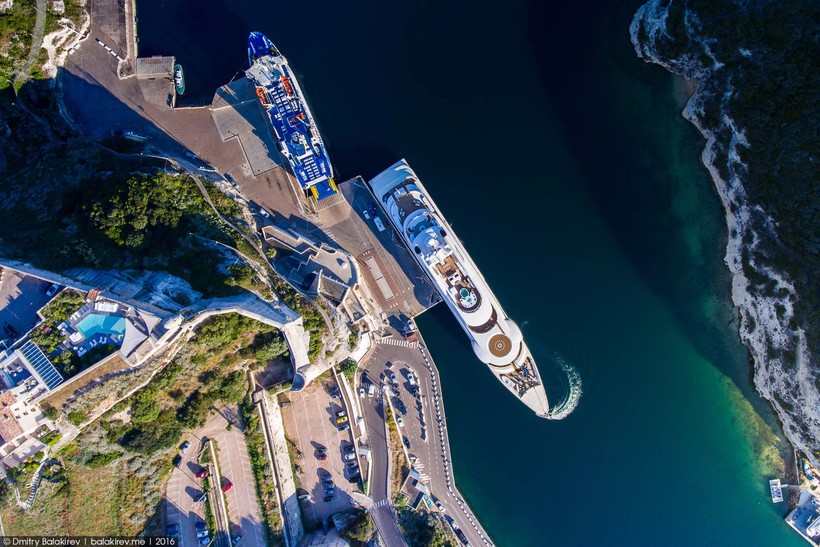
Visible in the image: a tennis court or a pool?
pool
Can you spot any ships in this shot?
Yes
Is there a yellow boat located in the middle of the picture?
No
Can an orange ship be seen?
No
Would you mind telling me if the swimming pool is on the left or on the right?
left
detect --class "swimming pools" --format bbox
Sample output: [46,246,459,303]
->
[76,312,126,341]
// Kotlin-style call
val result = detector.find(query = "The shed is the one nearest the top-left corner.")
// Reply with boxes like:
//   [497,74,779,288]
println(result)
[135,54,177,82]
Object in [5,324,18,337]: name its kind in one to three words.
vehicle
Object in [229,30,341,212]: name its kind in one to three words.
ship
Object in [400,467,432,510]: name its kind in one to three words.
building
